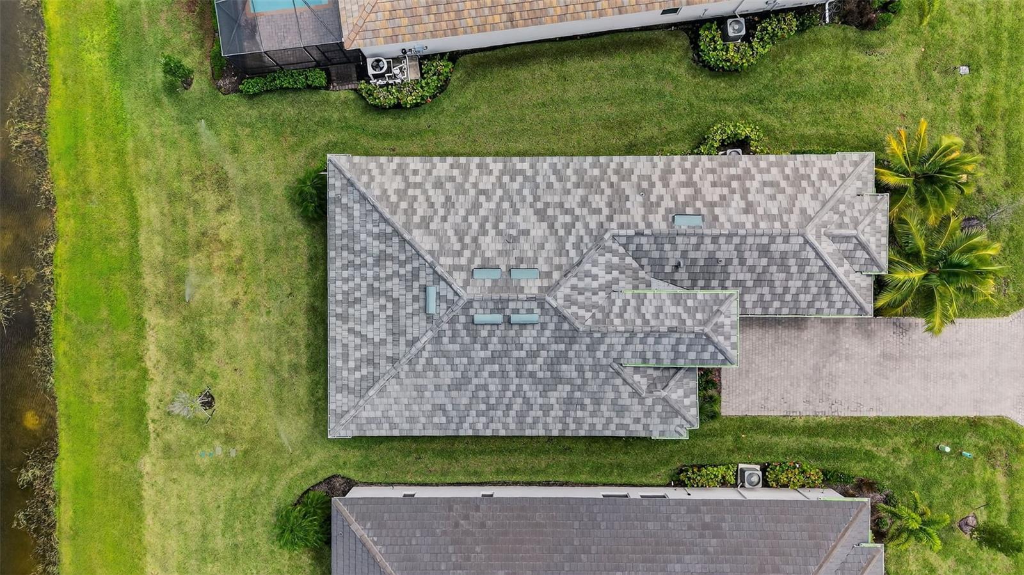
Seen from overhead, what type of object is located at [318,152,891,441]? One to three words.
house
